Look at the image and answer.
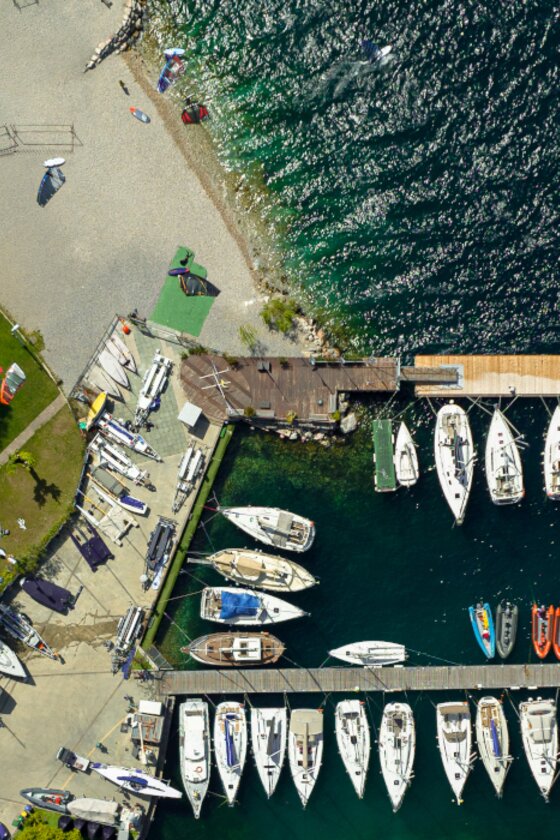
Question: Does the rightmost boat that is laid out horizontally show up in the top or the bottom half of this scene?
bottom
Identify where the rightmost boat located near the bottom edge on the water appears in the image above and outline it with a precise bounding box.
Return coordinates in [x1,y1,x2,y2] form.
[506,688,560,806]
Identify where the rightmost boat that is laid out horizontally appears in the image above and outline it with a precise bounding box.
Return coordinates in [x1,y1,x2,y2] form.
[319,641,424,669]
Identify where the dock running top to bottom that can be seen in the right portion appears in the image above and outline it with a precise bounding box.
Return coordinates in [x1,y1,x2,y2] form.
[373,421,397,491]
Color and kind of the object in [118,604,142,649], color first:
white boat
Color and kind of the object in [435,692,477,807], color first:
white boat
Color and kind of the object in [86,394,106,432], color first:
yellow boat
